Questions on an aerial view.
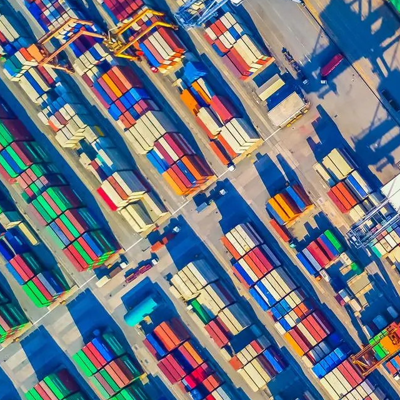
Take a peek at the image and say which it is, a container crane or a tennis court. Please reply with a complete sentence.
It is a container crane that can be seen here.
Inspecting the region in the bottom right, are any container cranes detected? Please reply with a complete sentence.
Yes, I can see a container crane in the bottom right.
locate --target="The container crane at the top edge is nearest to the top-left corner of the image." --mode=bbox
[25,13,109,72]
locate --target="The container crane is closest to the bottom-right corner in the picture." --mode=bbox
[351,319,400,375]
